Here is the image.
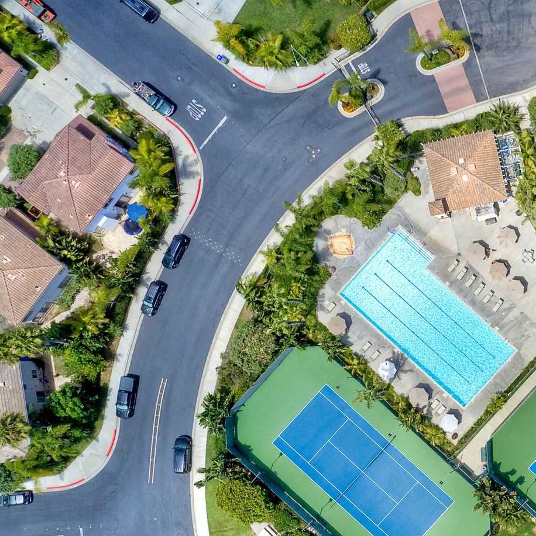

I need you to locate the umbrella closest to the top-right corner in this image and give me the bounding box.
[497,226,517,247]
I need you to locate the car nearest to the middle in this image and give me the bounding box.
[167,233,194,271]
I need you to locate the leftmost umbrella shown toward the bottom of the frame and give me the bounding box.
[327,317,346,335]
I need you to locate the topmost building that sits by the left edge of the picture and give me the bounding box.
[0,52,35,108]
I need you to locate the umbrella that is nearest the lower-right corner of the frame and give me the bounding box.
[440,414,458,432]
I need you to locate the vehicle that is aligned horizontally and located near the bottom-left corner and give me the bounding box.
[1,490,37,507]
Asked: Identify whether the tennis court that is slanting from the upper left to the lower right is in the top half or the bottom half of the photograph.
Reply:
bottom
